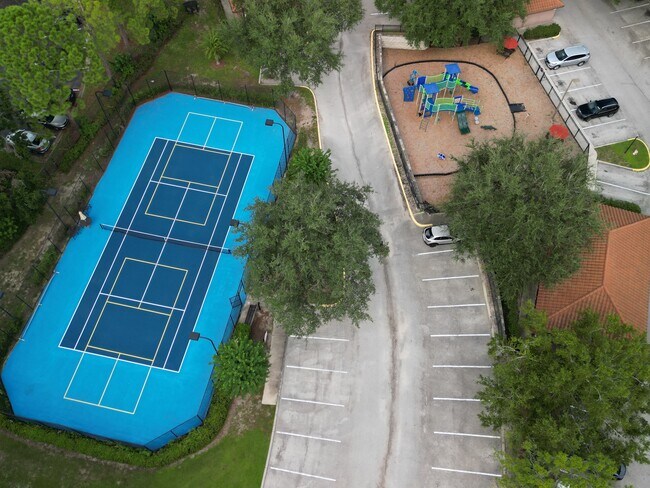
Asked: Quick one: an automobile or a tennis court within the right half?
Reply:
automobile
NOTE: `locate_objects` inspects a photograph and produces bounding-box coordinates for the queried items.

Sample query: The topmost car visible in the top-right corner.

[547,46,590,70]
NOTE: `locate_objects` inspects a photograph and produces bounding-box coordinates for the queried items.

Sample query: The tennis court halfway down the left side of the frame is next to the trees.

[2,92,295,452]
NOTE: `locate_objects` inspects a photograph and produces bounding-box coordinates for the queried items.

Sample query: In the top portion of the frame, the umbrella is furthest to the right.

[548,126,567,142]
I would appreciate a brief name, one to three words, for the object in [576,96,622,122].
car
